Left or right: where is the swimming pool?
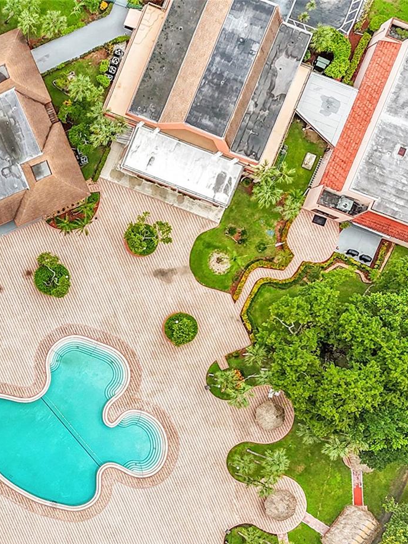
left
